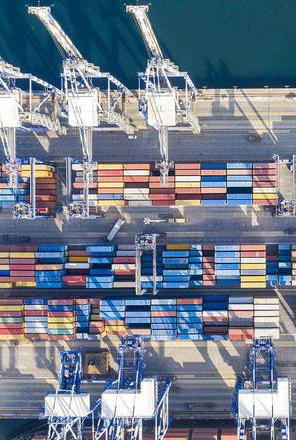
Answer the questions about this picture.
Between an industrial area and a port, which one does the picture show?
port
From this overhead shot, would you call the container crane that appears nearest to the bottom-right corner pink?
No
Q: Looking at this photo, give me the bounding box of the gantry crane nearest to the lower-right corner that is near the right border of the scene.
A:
[233,335,291,440]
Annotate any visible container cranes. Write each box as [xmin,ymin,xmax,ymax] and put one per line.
[23,3,141,189]
[121,1,206,189]
[101,336,177,440]
[271,153,296,218]
[12,155,53,220]
[65,155,103,219]
[233,335,291,440]
[43,349,117,440]
[0,52,74,190]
